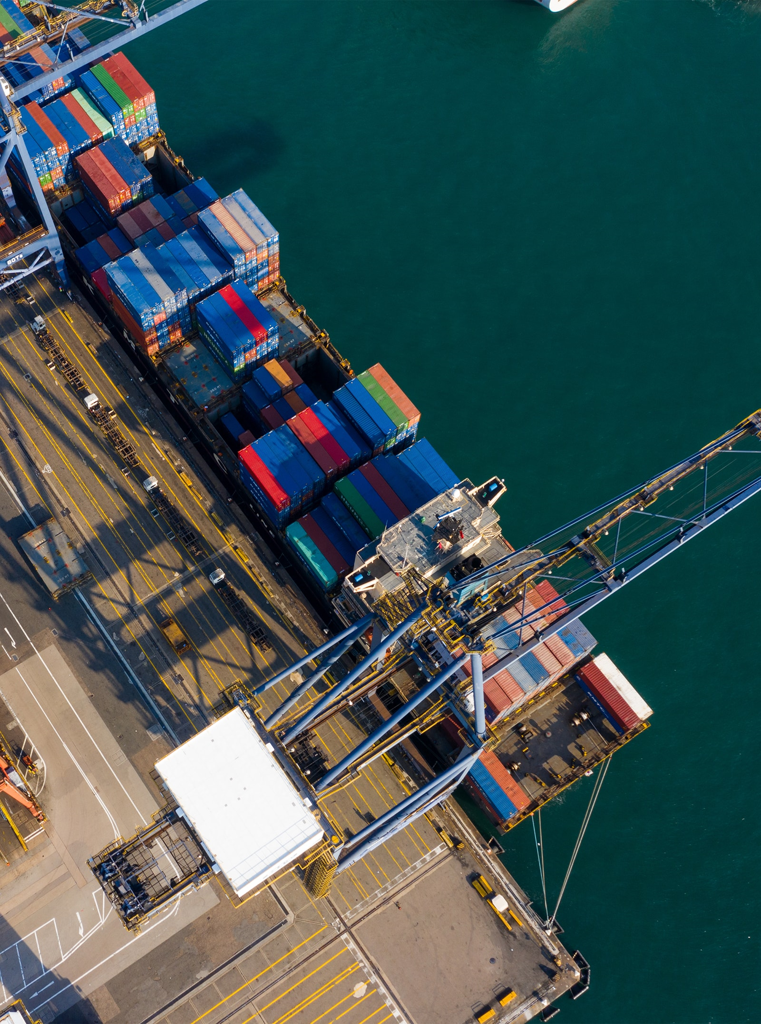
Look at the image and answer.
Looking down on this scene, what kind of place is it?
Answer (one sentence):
The area seen from above is a port.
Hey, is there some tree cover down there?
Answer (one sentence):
No, there is no tree cover in the image.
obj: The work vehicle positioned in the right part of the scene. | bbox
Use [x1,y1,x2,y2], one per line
[469,863,524,940]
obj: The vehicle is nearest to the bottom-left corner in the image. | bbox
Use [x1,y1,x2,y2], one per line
[0,750,45,825]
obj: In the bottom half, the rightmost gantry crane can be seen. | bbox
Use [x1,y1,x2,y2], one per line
[73,406,761,951]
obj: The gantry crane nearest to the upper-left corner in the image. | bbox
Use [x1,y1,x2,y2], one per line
[0,0,220,303]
